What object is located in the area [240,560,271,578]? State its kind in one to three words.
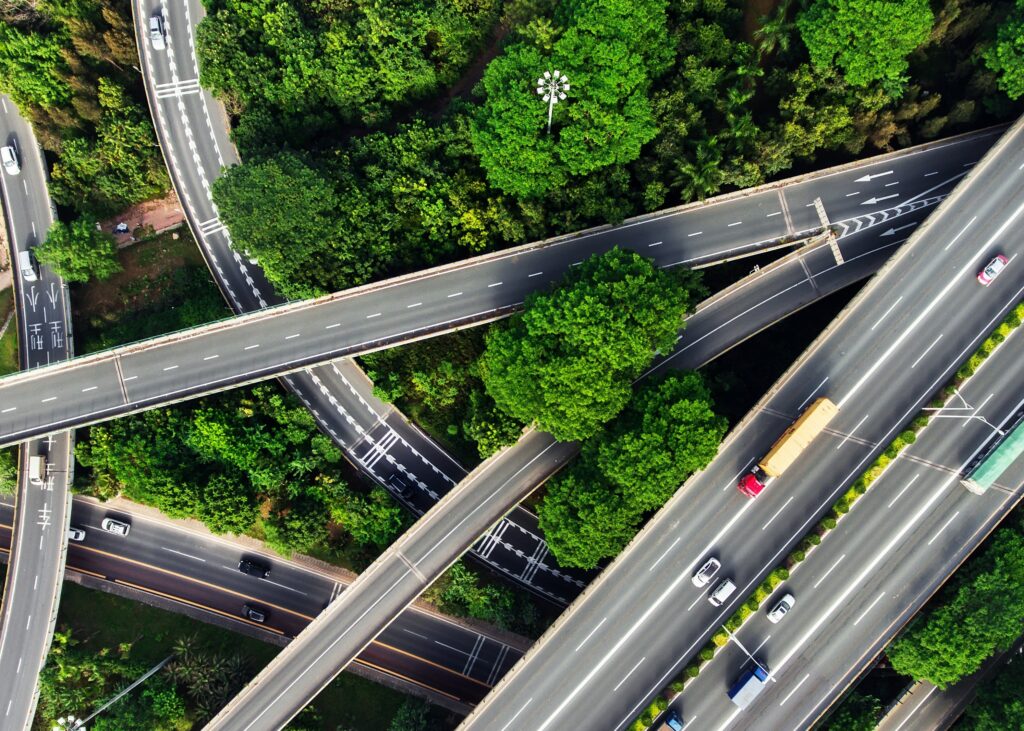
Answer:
car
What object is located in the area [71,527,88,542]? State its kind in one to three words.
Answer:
car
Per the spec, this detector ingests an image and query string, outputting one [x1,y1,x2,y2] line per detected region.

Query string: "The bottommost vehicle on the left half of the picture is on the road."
[241,605,268,623]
